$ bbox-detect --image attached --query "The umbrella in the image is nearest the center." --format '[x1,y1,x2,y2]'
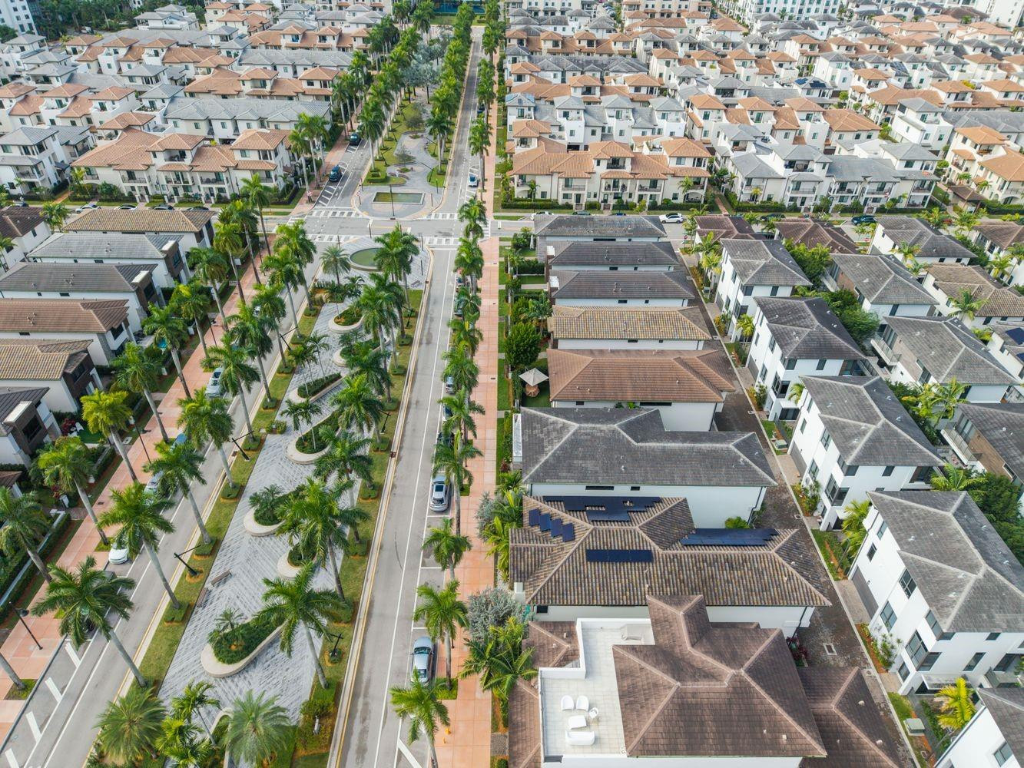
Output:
[517,369,548,394]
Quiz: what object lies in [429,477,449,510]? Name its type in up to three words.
car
